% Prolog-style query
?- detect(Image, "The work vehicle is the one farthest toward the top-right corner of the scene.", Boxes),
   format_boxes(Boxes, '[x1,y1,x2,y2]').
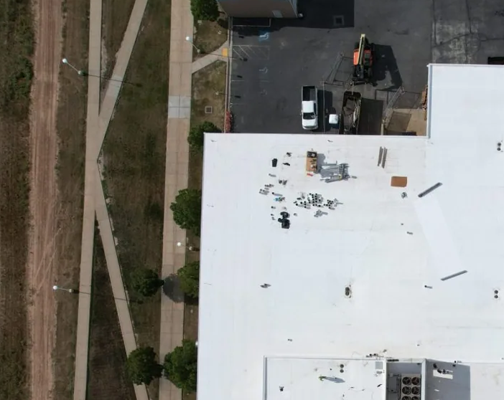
[349,26,374,95]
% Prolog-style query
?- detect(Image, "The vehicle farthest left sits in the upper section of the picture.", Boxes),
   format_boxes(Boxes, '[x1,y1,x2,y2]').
[299,83,320,133]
